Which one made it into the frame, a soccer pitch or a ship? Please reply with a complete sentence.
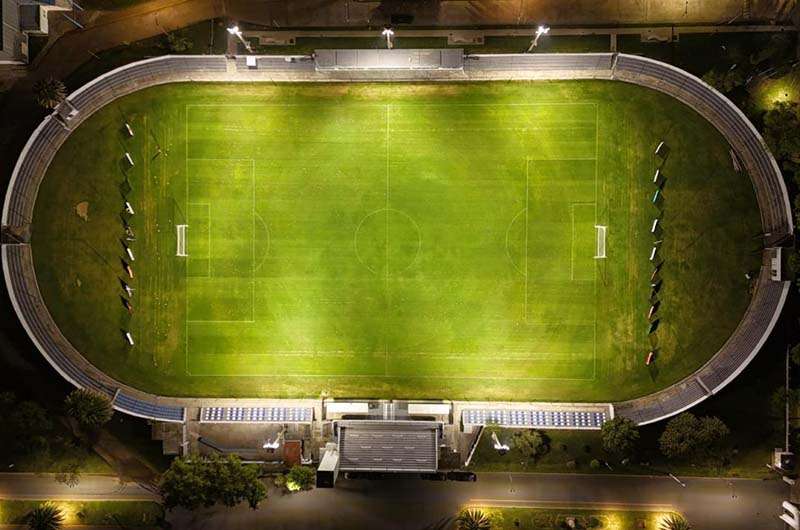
Of the two, only a soccer pitch appears.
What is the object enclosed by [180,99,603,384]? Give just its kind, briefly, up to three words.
soccer field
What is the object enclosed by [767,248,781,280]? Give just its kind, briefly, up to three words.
building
